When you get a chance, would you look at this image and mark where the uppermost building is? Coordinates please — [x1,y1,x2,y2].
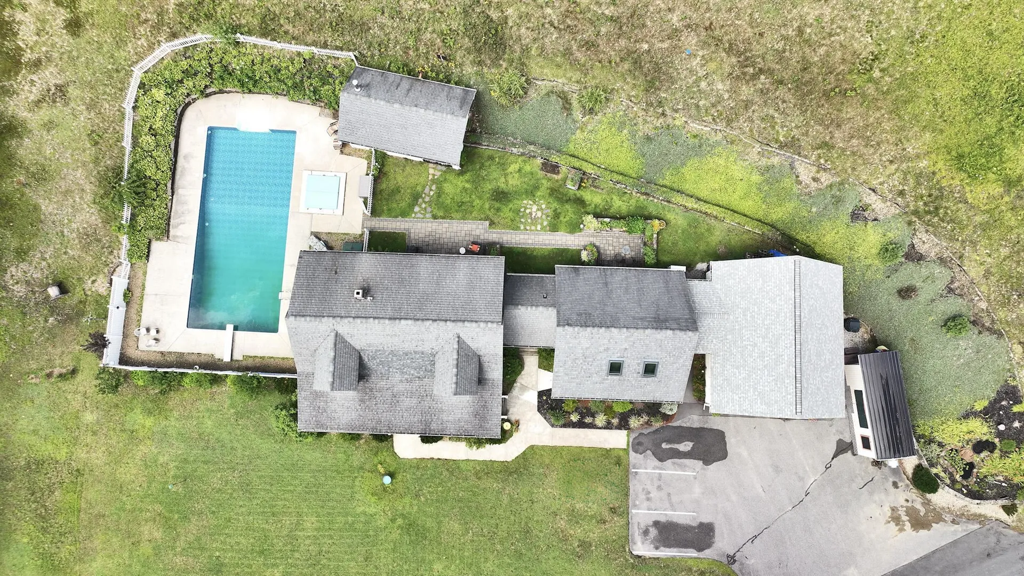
[338,65,478,174]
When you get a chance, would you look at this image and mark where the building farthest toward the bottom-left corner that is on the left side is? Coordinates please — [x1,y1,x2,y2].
[284,249,509,439]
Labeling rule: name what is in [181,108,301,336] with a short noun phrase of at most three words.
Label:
swimming pool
